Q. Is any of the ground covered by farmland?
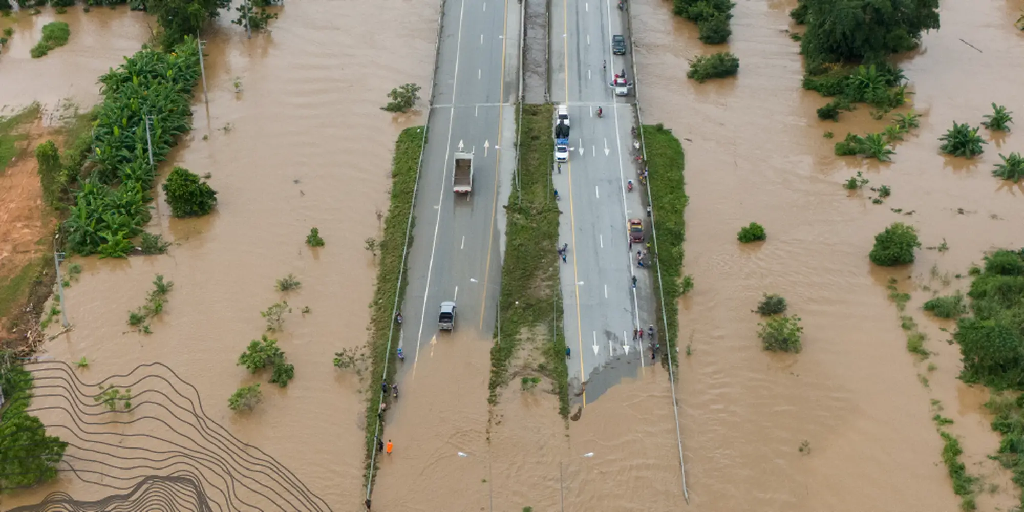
No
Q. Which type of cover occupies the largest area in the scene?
water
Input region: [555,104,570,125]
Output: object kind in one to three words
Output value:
vehicle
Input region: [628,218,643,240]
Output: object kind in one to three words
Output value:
car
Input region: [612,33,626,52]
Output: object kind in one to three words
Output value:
vehicle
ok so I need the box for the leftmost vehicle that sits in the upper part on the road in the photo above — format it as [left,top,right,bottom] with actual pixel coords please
[451,152,476,193]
